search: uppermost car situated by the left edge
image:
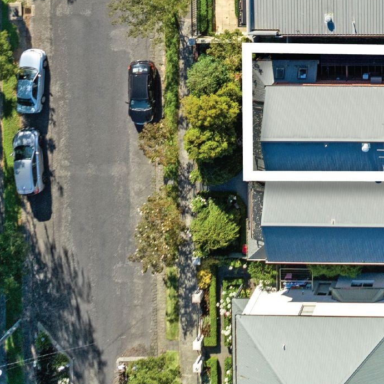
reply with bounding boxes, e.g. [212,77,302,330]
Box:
[15,50,50,116]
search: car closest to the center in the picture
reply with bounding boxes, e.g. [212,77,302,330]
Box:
[126,60,160,125]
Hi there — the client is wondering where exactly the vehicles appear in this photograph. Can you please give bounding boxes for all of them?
[15,50,50,116]
[126,60,160,125]
[14,131,47,199]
